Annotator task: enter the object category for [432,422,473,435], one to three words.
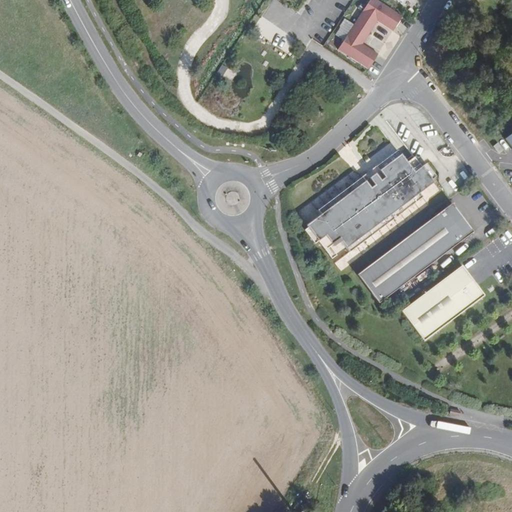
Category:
vehicle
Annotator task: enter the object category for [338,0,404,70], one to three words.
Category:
house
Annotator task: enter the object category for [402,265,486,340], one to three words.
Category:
building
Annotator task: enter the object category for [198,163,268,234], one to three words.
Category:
roundabout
